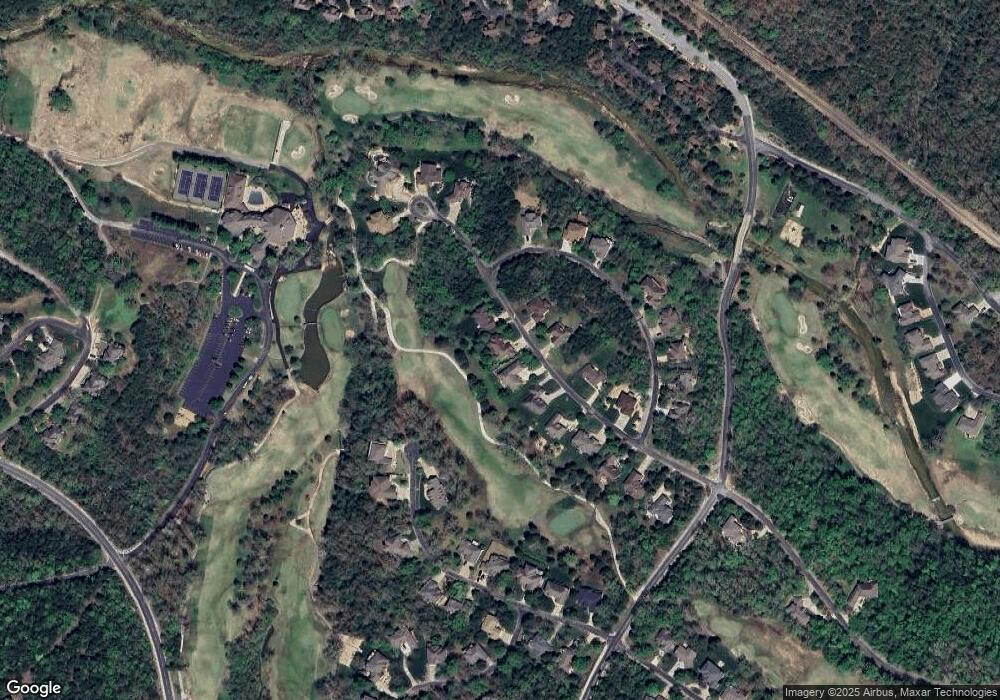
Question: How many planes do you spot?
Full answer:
The count of planes is 0.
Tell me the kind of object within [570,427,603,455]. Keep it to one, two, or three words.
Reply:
house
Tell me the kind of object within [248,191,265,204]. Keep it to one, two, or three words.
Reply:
swimming pool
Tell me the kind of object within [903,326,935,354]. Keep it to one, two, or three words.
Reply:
house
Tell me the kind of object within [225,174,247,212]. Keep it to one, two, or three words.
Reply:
building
